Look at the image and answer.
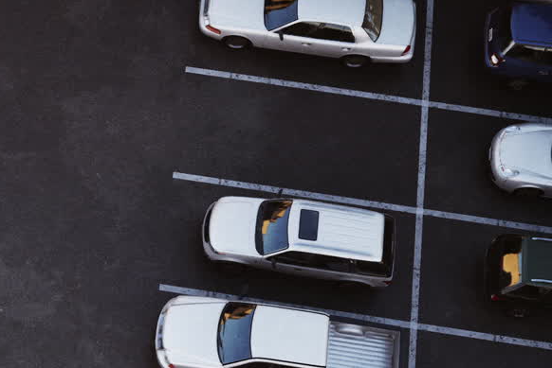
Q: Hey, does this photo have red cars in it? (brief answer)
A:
No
